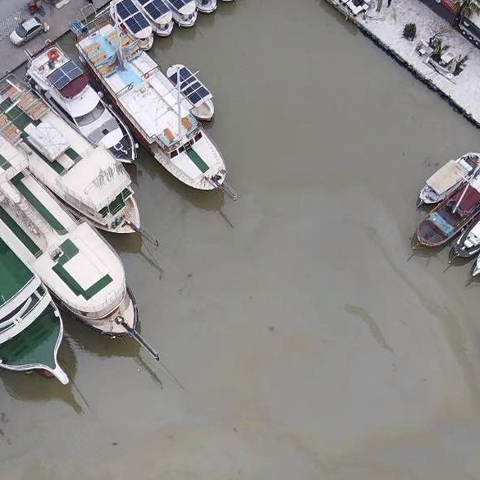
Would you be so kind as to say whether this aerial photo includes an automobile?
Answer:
Yes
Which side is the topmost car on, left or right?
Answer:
left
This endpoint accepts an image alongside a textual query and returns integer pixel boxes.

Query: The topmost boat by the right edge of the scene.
[418,153,480,207]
